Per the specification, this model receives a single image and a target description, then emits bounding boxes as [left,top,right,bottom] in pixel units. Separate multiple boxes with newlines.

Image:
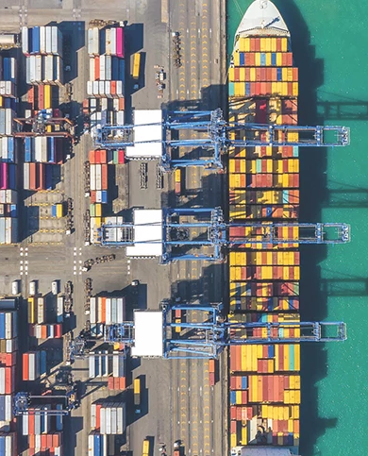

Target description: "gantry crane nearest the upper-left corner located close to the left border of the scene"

[13,115,74,143]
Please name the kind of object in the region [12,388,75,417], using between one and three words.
container crane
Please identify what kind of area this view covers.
port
